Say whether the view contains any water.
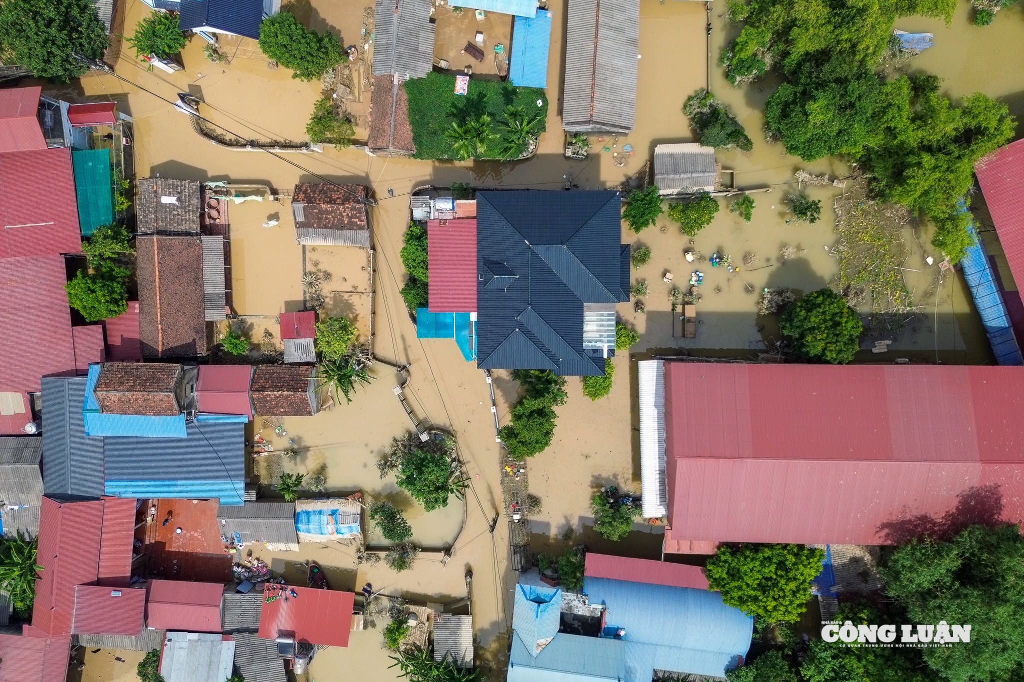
Yes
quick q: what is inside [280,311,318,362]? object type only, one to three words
shed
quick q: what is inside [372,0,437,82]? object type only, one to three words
house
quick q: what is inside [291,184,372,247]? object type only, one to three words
house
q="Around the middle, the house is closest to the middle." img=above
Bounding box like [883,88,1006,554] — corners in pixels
[411,190,631,377]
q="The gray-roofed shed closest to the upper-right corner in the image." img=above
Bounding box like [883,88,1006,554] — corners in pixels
[654,143,721,197]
